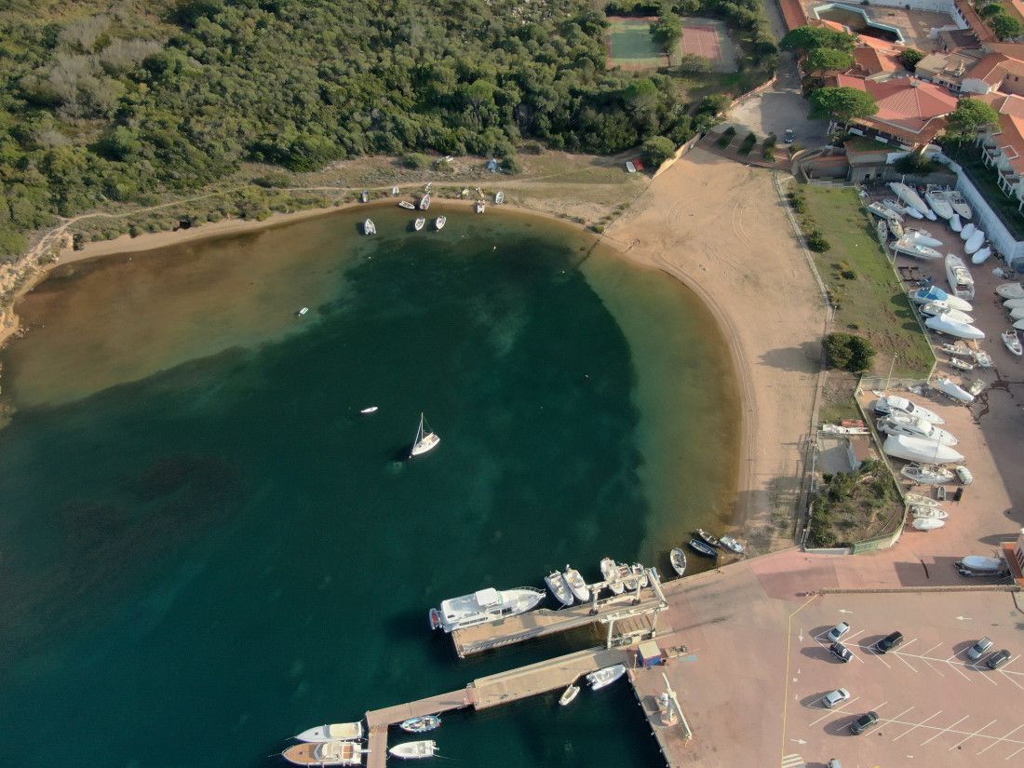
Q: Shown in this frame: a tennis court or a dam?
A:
tennis court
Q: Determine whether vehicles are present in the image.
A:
Yes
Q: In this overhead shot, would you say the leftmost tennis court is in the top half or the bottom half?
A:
top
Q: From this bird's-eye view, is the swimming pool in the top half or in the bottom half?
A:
top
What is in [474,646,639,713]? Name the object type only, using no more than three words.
pier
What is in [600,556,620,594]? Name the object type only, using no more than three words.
boat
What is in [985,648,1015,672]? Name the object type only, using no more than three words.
car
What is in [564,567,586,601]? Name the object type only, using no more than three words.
boat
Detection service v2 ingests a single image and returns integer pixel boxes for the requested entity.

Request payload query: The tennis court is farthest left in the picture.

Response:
[606,8,671,72]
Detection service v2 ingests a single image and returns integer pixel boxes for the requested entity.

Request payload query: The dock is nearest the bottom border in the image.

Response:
[365,689,474,768]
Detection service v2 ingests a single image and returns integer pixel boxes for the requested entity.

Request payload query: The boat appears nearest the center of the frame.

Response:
[412,415,441,456]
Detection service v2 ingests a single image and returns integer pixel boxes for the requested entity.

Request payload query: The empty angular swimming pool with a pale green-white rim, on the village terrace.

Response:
[813,3,906,45]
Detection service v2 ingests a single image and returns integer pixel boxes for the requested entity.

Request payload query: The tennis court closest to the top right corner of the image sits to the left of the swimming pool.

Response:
[680,7,740,73]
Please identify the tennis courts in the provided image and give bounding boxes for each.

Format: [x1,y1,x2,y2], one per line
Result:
[680,7,740,73]
[606,8,671,72]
